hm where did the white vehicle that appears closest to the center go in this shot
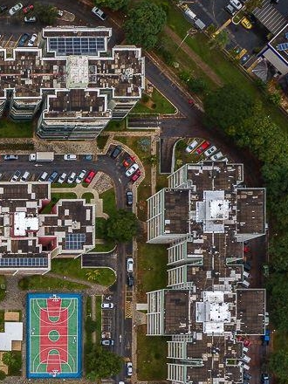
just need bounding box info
[125,163,139,177]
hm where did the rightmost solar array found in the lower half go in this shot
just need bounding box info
[65,233,85,249]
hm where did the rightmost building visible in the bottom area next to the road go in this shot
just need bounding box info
[143,160,265,384]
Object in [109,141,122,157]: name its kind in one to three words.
vehicle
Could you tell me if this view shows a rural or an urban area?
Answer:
urban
